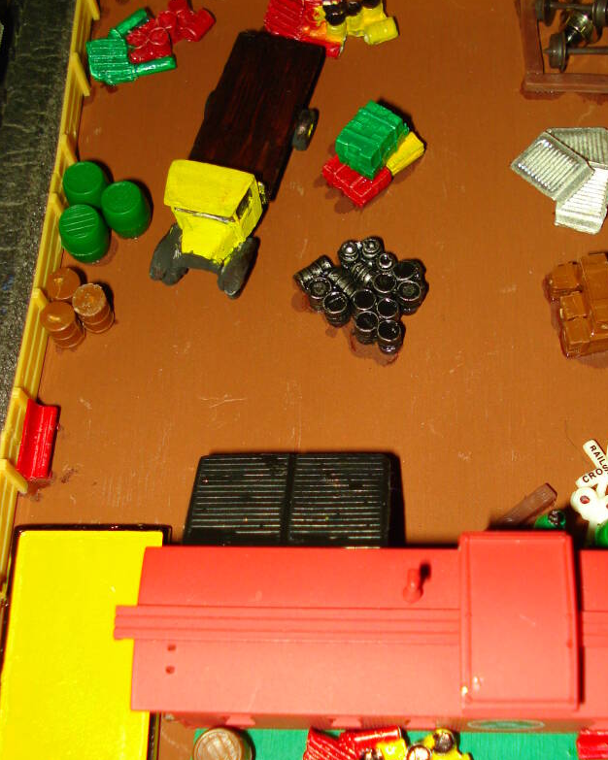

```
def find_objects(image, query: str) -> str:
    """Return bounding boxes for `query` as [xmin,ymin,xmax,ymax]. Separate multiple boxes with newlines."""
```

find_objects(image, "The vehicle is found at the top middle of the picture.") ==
[155,33,326,304]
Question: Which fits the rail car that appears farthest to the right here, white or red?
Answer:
red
